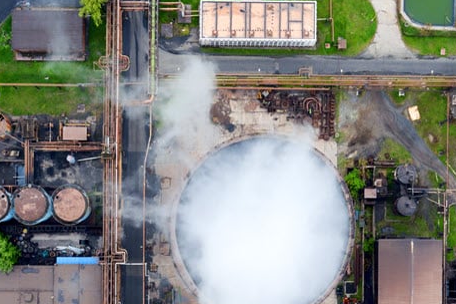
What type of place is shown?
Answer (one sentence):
It's an industrial area.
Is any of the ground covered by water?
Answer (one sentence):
Yes, some water is visible.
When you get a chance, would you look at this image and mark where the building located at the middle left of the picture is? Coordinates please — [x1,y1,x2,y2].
[60,122,94,142]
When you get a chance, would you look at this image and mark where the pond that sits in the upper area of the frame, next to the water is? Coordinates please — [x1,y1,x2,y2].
[398,0,456,34]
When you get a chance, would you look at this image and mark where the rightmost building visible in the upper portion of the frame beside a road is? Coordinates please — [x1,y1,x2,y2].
[200,0,317,49]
